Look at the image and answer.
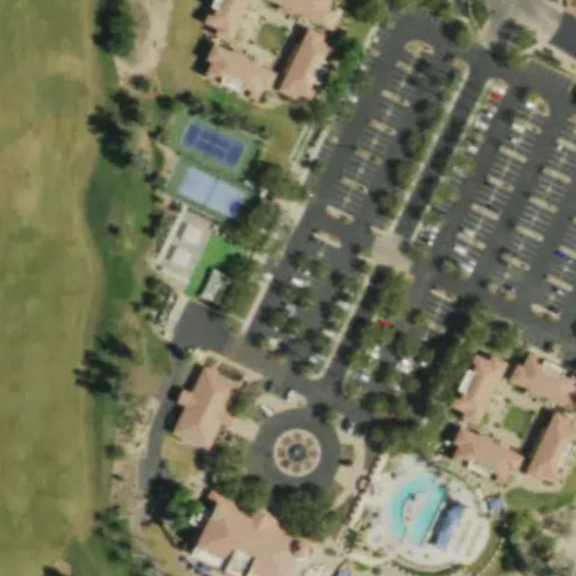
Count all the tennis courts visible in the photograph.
2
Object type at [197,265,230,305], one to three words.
building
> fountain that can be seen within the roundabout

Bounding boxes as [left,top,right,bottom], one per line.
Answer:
[289,443,306,462]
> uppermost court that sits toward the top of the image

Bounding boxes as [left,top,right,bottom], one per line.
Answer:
[169,111,262,173]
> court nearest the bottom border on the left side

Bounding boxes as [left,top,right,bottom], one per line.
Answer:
[164,147,247,223]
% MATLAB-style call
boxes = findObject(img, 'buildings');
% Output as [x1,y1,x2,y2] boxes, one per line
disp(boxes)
[203,0,254,44]
[450,353,509,426]
[279,30,338,104]
[190,491,302,576]
[510,352,576,411]
[526,412,576,487]
[173,367,248,450]
[203,45,277,104]
[449,427,524,486]
[197,265,230,305]
[264,0,337,28]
